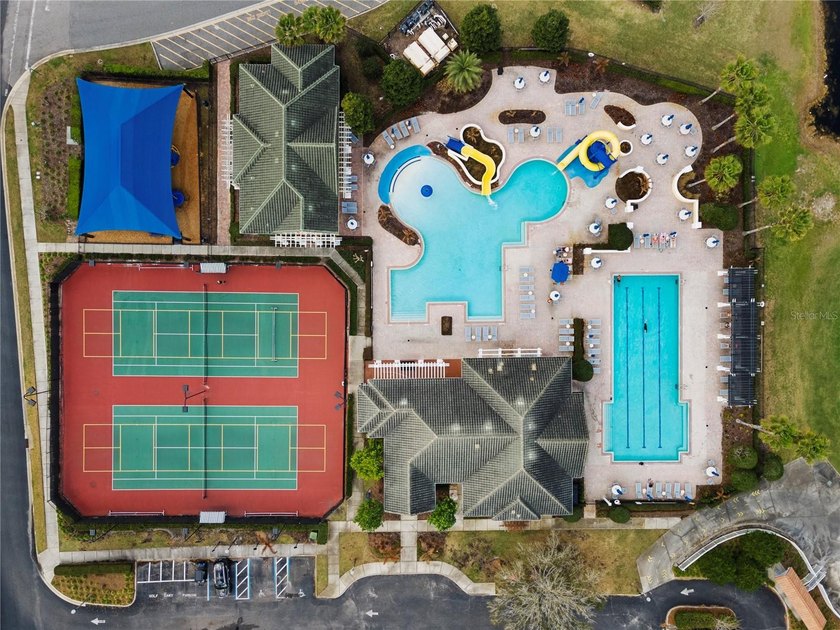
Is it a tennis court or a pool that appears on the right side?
pool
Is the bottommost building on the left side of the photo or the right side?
right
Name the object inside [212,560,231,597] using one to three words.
car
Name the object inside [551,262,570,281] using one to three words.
umbrella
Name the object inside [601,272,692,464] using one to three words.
swimming pool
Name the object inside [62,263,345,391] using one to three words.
tennis court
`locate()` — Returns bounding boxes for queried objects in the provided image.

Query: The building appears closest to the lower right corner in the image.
[762,548,834,630]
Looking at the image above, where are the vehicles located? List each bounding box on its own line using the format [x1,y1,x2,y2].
[212,560,231,597]
[194,562,209,585]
